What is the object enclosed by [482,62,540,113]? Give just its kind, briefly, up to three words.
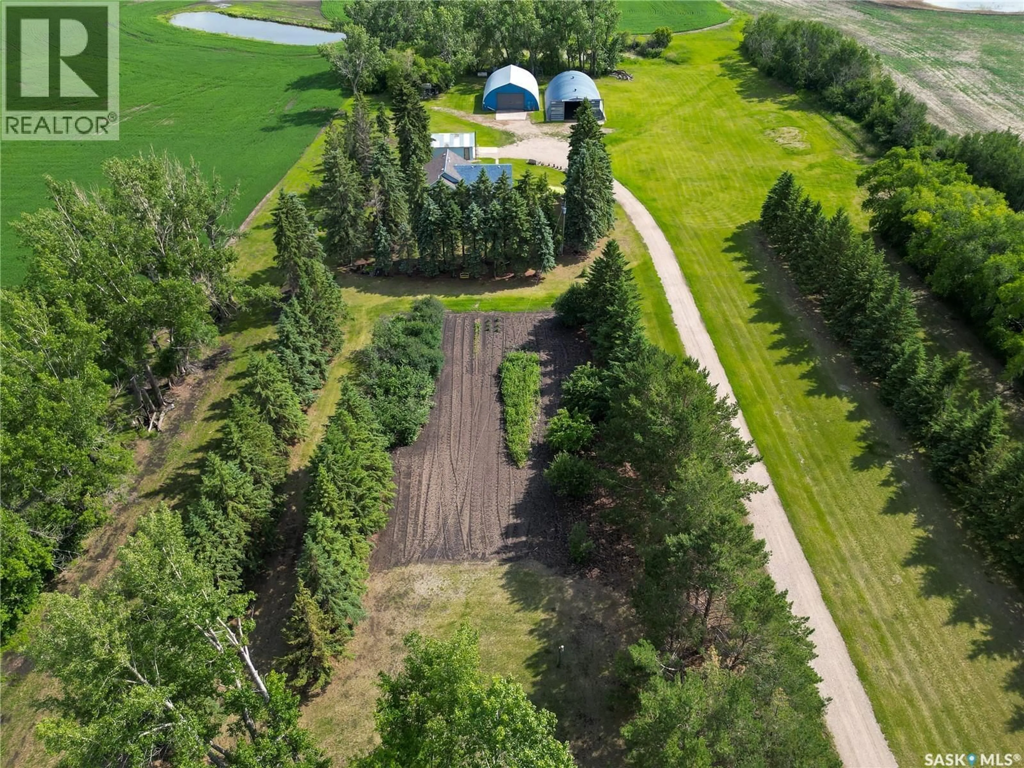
building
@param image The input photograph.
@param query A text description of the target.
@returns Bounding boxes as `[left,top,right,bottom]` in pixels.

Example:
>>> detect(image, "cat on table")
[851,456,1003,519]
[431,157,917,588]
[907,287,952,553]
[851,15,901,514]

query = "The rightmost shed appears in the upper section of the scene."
[543,69,609,121]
